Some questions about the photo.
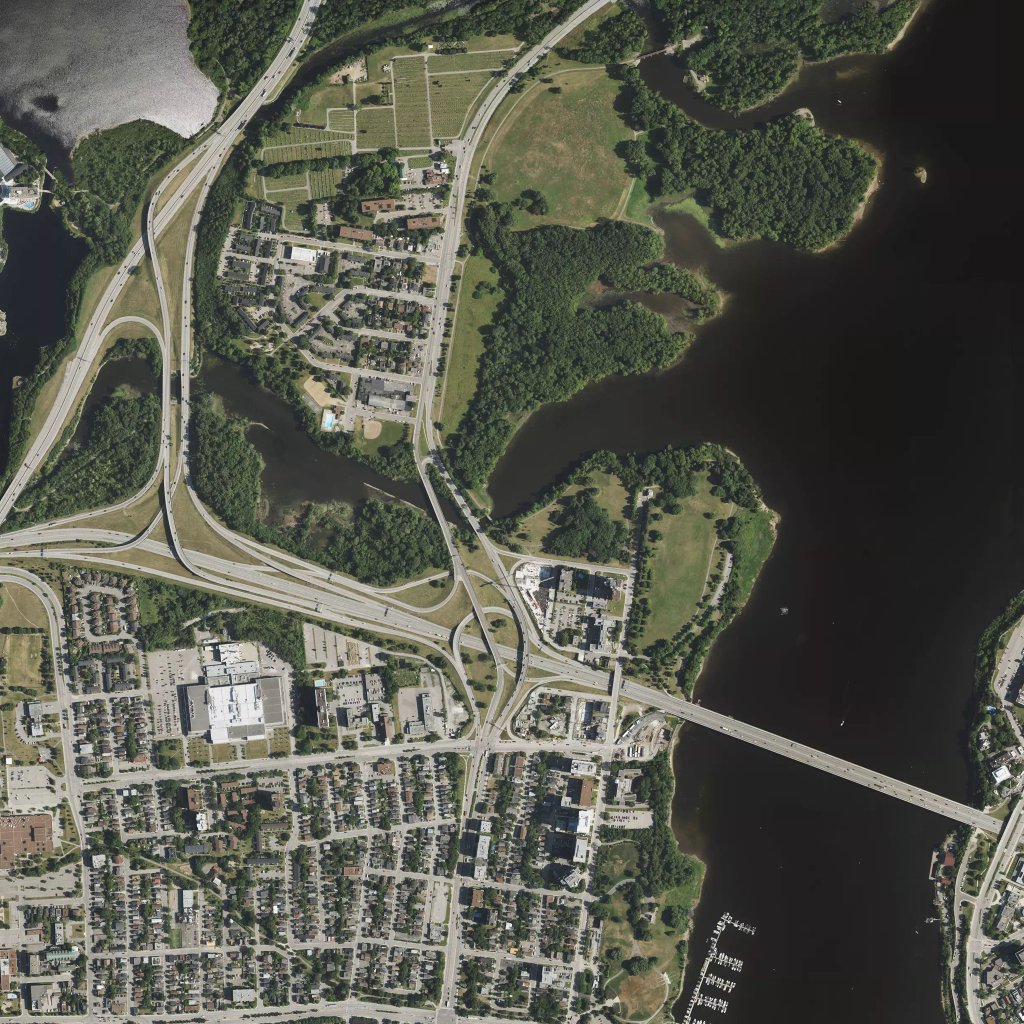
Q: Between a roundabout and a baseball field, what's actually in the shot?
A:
baseball field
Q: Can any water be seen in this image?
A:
Yes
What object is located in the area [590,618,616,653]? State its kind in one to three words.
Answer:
building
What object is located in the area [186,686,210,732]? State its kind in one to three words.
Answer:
building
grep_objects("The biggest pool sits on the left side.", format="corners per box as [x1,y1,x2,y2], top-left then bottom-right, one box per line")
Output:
[321,409,336,432]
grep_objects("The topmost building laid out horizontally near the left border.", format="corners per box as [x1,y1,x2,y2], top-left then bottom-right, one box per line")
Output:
[8,185,39,198]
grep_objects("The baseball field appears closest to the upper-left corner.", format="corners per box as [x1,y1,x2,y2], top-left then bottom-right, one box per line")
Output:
[355,418,412,453]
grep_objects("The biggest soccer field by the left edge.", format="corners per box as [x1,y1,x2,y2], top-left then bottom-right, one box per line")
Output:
[7,633,42,686]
